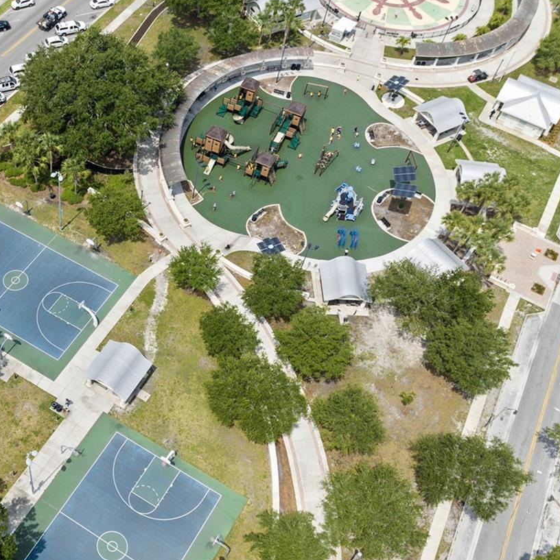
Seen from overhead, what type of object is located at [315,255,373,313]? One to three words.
building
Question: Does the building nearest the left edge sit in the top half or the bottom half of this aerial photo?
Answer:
bottom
